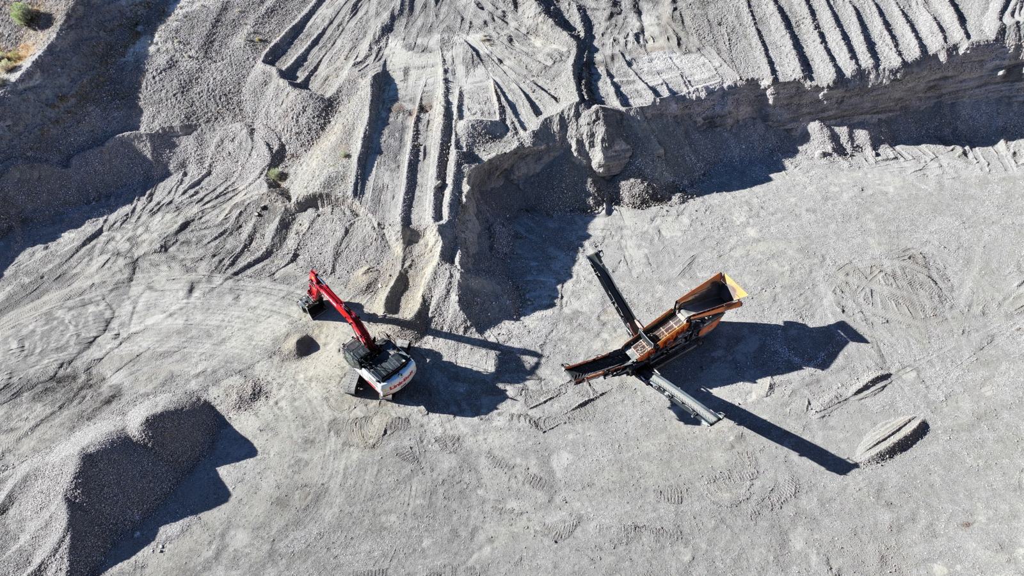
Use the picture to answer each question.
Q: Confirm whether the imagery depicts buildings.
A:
No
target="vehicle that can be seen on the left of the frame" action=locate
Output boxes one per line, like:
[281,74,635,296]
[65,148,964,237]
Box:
[308,269,419,400]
